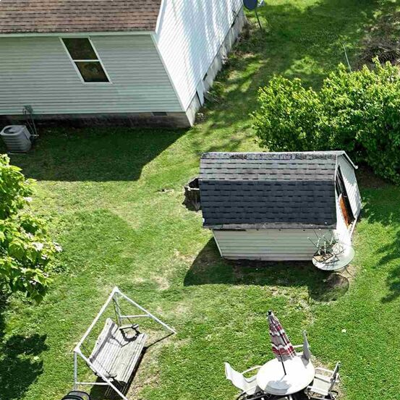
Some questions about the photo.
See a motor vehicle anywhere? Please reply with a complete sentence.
No, there is no motor vehicle in the image.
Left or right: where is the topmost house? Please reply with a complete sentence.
The topmost house is on the left side of the image.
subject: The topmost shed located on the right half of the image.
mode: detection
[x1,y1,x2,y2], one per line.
[198,154,360,259]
